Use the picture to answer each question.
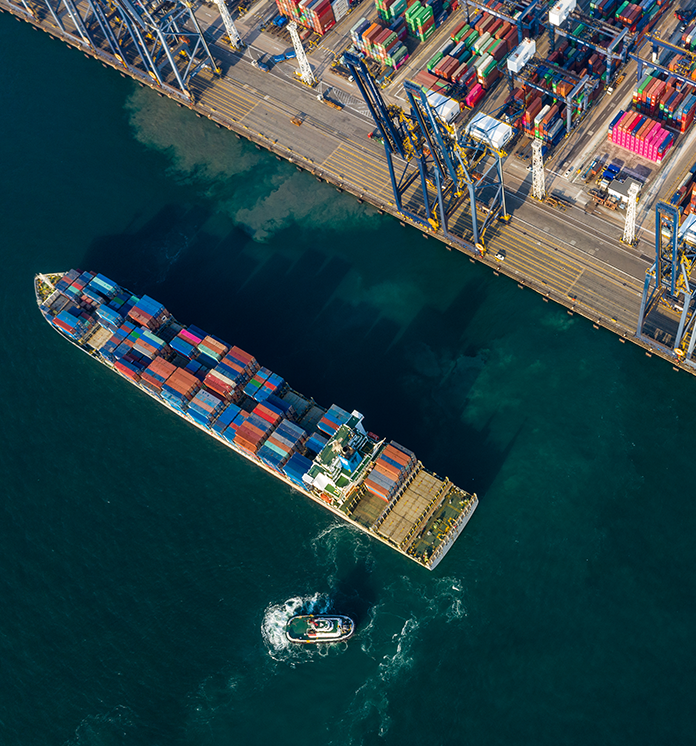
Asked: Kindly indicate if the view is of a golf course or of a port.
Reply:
port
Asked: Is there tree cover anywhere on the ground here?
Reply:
No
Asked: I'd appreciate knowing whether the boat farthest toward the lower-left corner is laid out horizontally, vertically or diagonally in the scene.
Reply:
horizontally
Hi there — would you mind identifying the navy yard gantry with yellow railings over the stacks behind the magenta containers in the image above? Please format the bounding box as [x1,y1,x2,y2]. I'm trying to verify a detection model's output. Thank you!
[627,31,696,96]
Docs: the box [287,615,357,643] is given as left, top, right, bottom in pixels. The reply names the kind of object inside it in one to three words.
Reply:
boat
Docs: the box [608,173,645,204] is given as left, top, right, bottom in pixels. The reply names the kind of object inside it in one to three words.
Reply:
shed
